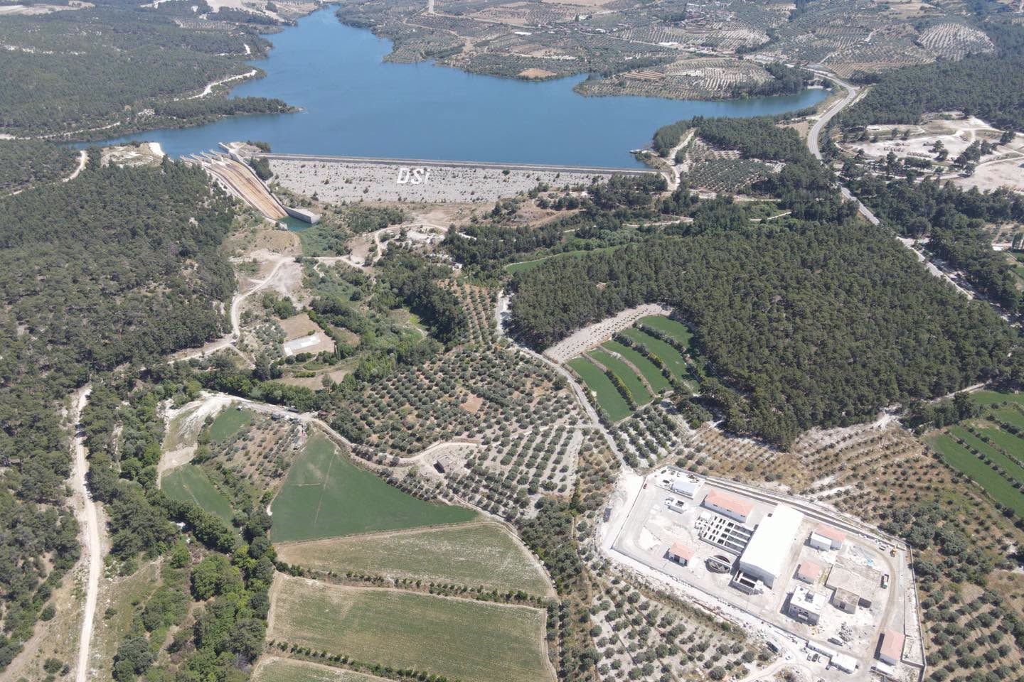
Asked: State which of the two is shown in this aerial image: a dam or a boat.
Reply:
dam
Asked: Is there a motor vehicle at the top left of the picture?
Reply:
No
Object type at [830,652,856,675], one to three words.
building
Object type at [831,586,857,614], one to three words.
building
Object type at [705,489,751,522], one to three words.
house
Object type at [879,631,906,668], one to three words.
house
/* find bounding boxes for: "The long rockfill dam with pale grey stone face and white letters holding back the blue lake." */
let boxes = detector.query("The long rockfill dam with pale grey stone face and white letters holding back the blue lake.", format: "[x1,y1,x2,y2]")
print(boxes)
[260,155,674,209]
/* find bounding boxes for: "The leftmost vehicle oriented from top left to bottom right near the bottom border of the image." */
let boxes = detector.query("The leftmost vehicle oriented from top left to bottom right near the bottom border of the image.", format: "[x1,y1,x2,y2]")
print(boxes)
[762,631,788,656]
